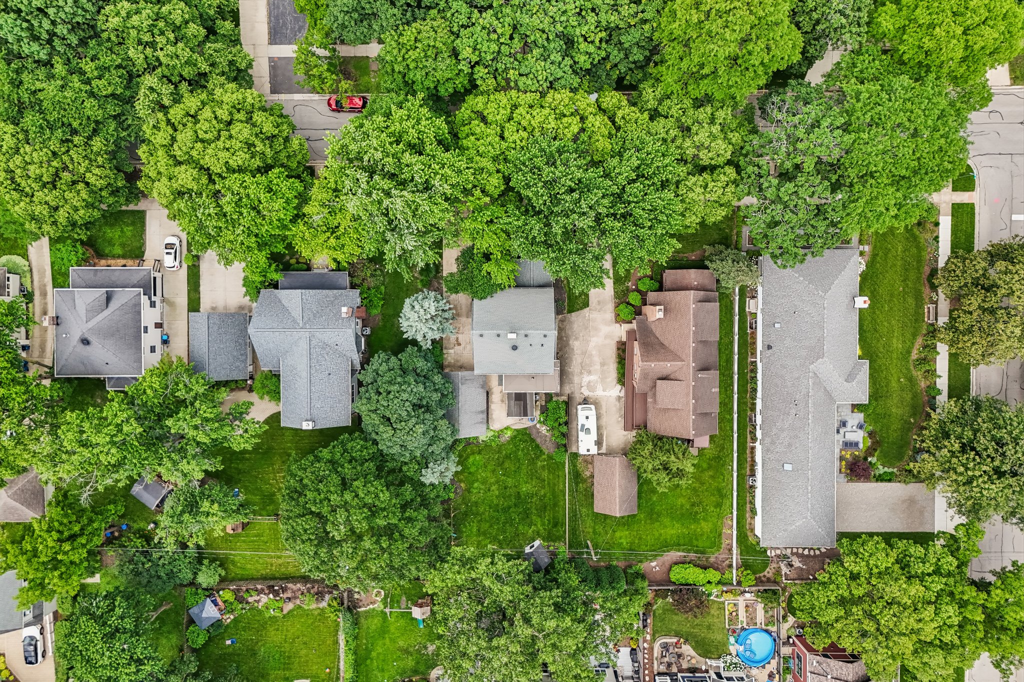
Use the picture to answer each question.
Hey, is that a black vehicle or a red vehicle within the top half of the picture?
red vehicle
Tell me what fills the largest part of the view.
trees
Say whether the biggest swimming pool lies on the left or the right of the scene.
right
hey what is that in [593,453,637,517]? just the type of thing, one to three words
shed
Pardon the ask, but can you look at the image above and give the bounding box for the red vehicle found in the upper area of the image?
[329,97,367,115]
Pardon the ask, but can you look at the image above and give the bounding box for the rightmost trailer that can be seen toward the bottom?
[577,395,599,457]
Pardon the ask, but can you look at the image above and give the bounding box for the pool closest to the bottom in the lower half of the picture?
[731,627,780,668]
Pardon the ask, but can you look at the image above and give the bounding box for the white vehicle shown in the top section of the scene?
[162,237,183,271]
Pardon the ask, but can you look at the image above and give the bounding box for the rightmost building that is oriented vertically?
[754,250,870,547]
